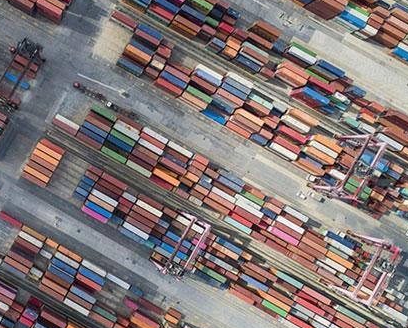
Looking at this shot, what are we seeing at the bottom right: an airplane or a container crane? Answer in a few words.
container crane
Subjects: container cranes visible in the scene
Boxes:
[318,228,404,307]
[309,134,394,202]
[0,40,46,112]
[148,208,215,285]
